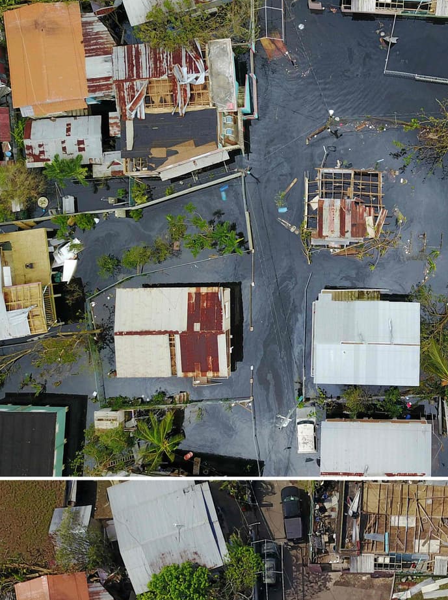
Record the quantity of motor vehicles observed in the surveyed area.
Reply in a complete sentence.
The picture shows 3 motor vehicles.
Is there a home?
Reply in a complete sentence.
Yes, I can see a home in this picture.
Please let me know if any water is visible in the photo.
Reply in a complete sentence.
Yes, some water is visible.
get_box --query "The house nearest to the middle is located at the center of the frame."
[115,286,238,378]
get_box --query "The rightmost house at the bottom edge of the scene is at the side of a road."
[331,480,448,575]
